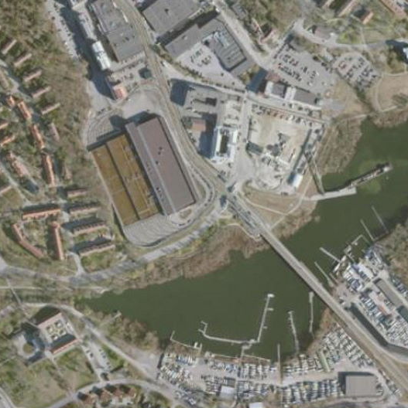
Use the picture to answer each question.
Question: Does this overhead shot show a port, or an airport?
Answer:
port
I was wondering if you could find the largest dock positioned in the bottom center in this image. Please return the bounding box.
[197,294,273,364]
